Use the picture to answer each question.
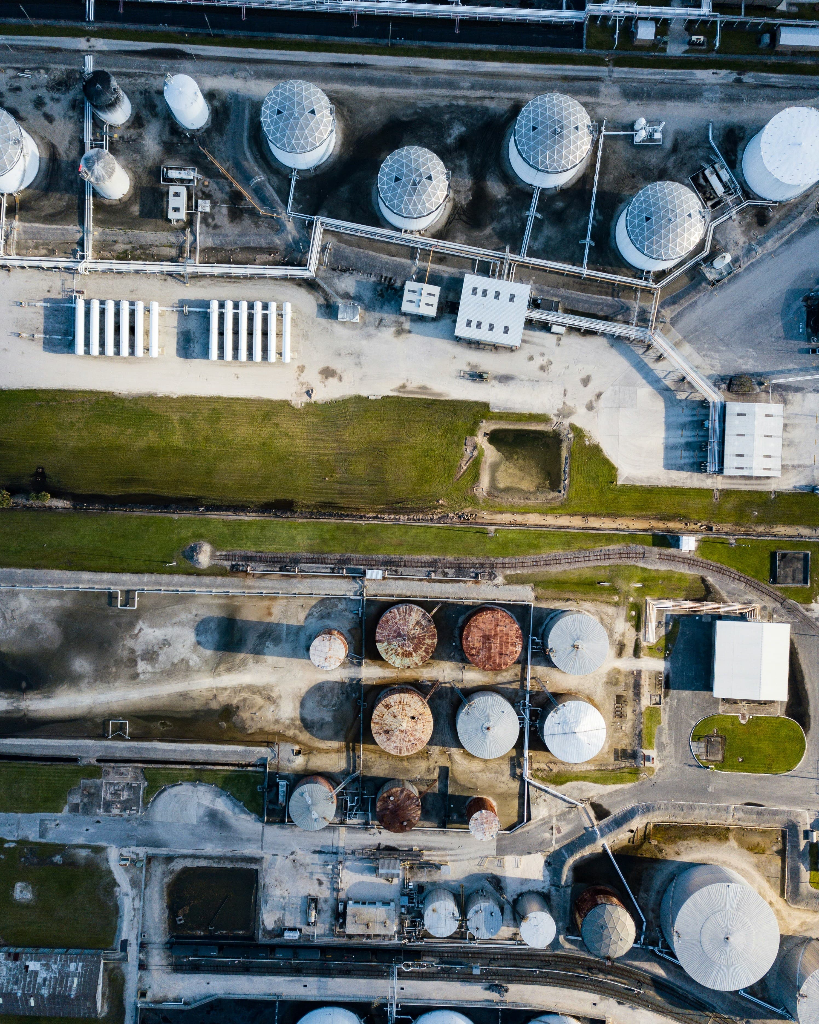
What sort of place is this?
industrial area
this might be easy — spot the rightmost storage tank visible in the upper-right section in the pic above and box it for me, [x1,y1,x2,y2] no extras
[741,106,819,204]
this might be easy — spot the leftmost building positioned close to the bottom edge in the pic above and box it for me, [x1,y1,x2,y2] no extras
[0,942,107,1017]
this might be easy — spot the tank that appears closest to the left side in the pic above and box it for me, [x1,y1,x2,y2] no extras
[0,108,42,195]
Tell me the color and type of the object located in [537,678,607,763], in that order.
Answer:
white storage tank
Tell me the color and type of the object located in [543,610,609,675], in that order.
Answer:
white storage tank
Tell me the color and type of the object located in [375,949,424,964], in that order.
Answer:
black rail car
